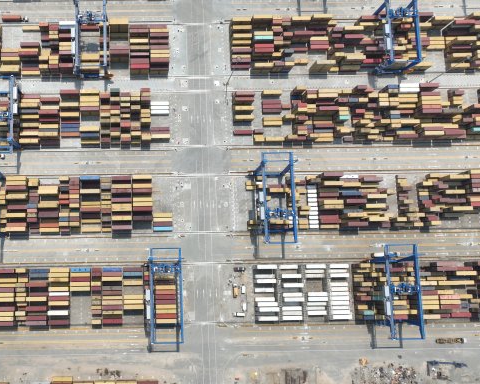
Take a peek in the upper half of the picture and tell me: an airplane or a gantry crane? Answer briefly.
gantry crane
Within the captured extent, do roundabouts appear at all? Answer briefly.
No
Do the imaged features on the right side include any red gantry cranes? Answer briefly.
No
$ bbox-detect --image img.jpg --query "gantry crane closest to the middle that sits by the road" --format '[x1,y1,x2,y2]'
[248,152,299,243]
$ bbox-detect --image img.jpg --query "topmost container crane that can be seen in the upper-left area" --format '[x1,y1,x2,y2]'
[71,0,112,78]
